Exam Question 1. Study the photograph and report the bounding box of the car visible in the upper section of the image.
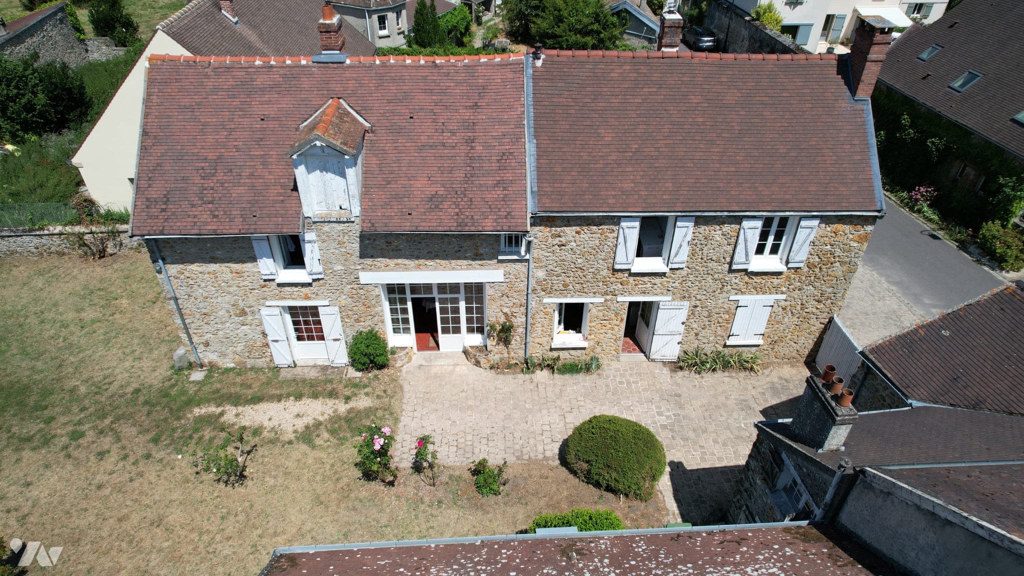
[679,7,724,46]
